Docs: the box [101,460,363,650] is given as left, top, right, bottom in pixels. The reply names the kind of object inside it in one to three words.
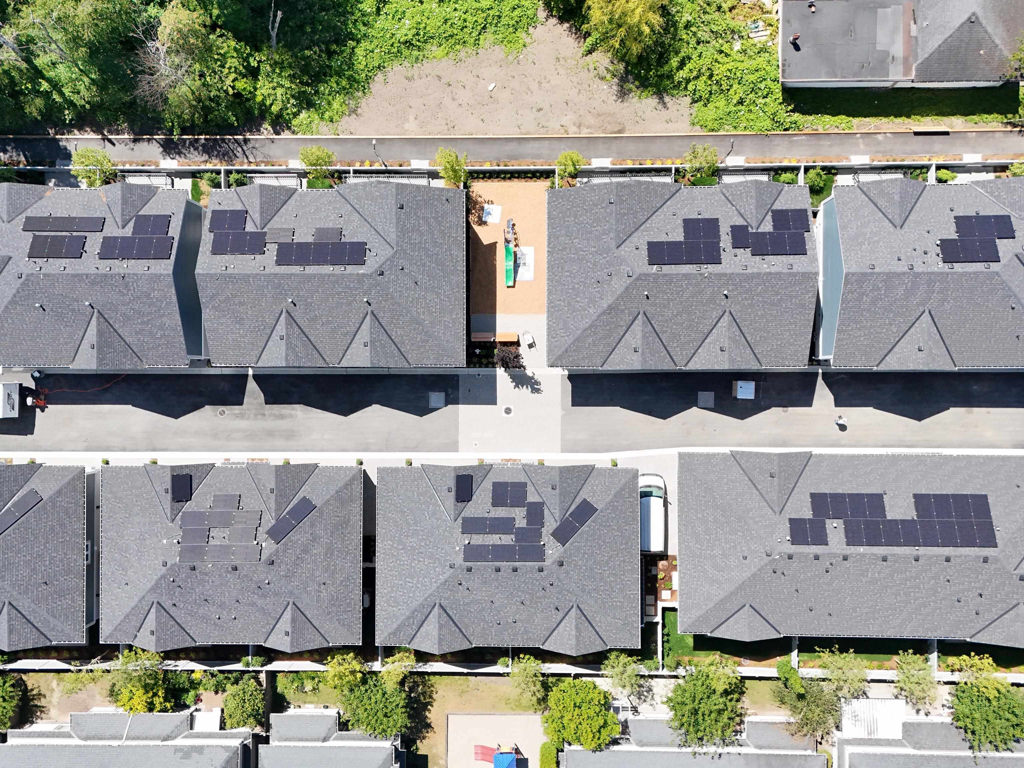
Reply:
house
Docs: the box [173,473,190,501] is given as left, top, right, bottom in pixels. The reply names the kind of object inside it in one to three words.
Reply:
solar panel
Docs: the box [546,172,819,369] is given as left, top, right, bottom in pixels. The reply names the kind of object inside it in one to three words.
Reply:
house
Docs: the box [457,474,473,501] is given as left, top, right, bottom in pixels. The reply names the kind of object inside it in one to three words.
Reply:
solar panel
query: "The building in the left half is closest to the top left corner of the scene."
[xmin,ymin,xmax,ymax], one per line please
[0,174,209,366]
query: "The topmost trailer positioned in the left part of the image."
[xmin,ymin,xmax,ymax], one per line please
[0,384,44,418]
